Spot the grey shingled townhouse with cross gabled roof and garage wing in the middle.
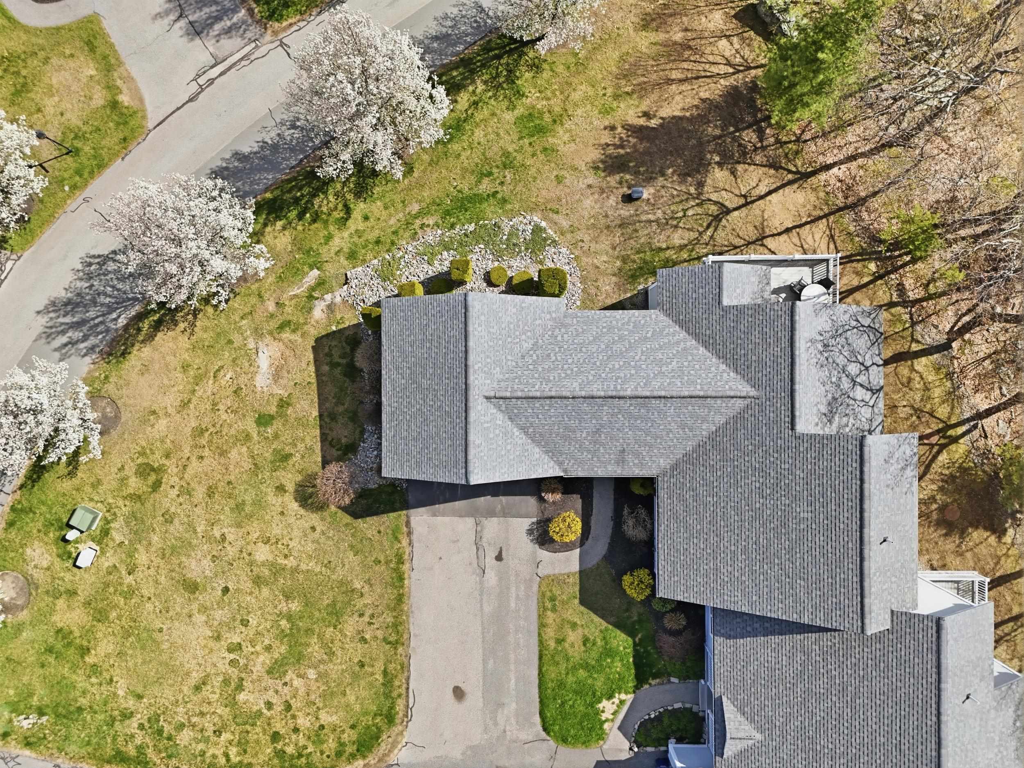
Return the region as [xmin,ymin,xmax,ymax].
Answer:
[380,262,919,636]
